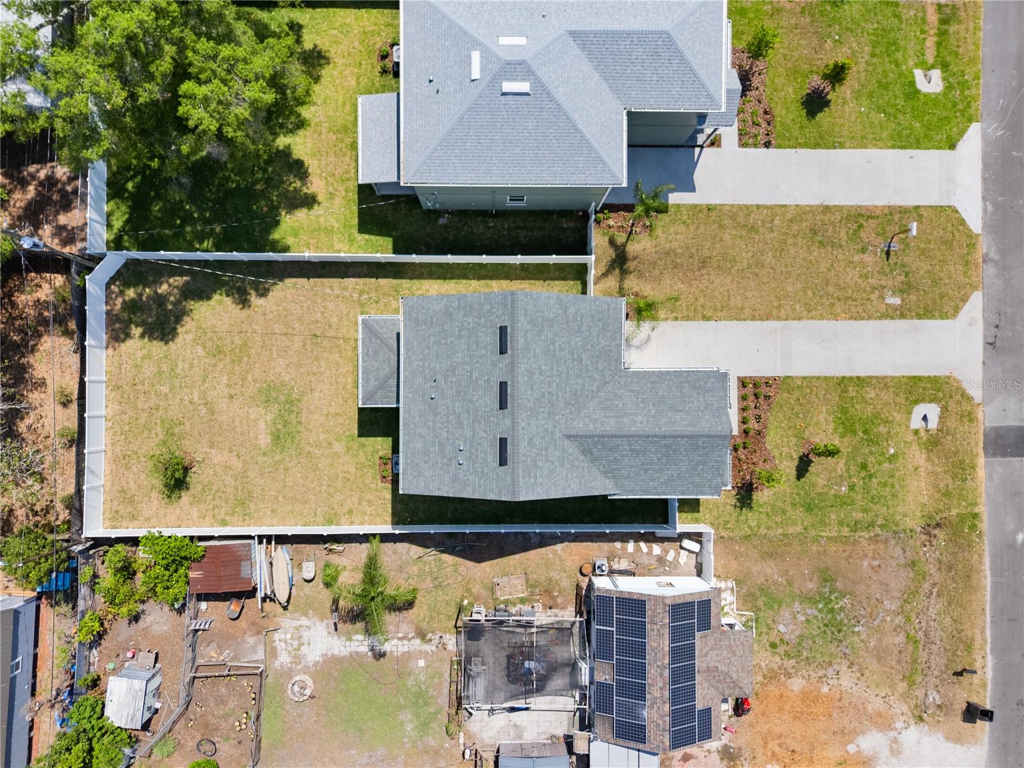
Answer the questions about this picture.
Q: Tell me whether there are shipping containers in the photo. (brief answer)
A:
No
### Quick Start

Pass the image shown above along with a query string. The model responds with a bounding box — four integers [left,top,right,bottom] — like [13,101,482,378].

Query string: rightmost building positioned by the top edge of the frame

[356,0,739,210]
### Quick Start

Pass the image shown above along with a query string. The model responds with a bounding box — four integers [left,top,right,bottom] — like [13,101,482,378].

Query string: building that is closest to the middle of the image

[356,290,732,501]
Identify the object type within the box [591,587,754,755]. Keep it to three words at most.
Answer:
house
